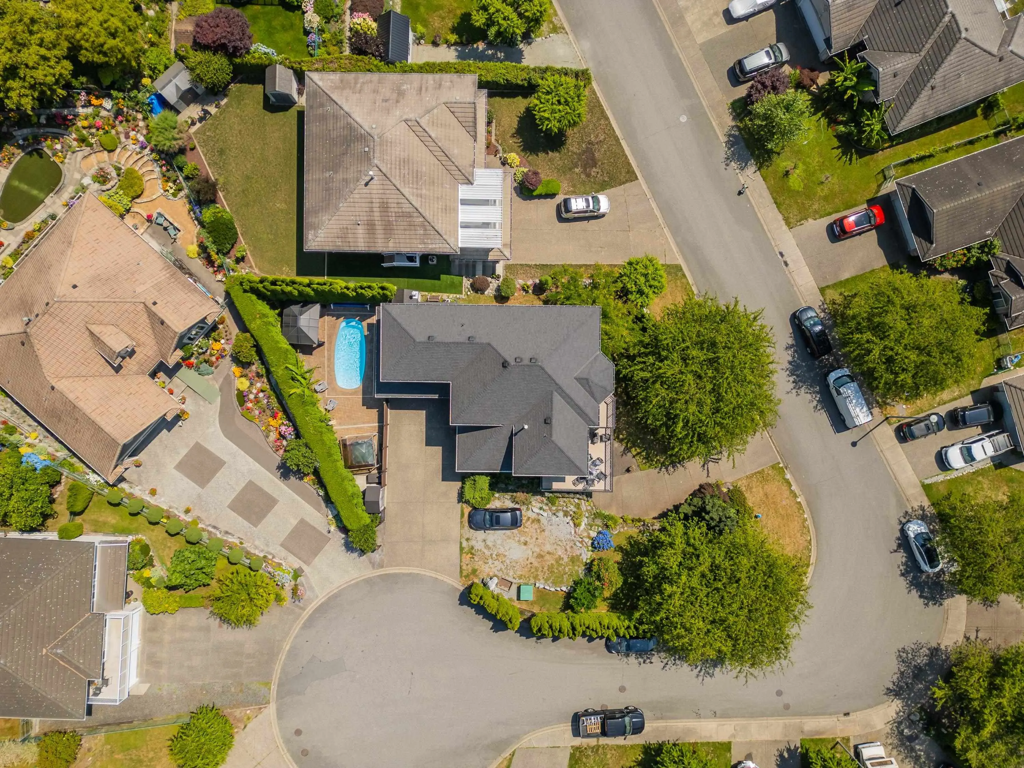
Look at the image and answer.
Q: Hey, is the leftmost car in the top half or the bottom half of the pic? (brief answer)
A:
bottom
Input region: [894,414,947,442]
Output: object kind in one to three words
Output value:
car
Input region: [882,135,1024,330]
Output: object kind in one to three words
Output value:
house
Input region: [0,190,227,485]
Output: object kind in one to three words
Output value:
house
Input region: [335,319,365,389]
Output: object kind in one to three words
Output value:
swimming pool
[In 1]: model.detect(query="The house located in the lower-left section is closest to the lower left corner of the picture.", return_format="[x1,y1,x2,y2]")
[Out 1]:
[0,530,150,721]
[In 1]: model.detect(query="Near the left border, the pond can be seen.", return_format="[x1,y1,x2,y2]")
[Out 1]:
[0,143,65,226]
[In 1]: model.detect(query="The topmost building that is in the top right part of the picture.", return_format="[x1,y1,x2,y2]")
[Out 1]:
[806,0,1024,139]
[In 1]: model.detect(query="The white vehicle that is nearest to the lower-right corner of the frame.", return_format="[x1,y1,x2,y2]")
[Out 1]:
[860,737,892,768]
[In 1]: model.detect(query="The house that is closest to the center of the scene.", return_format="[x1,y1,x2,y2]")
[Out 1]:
[375,303,615,492]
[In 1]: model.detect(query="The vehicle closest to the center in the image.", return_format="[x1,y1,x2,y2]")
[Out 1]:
[469,507,521,532]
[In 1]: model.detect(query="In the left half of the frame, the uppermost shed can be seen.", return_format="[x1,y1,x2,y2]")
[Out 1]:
[378,10,412,64]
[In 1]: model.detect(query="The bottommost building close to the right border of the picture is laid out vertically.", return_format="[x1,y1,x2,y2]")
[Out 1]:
[986,370,1024,463]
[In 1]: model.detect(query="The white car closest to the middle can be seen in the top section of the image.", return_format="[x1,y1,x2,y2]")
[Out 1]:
[559,192,610,219]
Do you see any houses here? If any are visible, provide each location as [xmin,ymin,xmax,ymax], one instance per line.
[882,135,1024,330]
[375,303,615,492]
[304,71,512,265]
[986,370,1024,463]
[806,0,1024,139]
[0,530,150,721]
[0,190,227,485]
